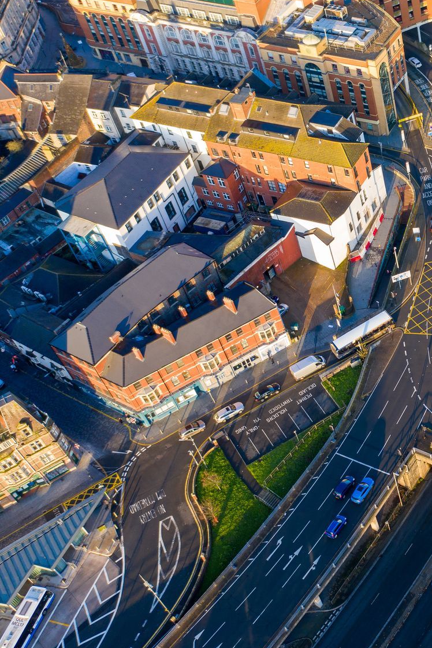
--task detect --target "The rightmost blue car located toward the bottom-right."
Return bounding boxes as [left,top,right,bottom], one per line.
[352,479,375,503]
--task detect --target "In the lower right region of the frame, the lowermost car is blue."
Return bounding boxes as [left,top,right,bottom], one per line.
[324,515,348,540]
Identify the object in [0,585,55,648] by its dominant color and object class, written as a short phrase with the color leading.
white bus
